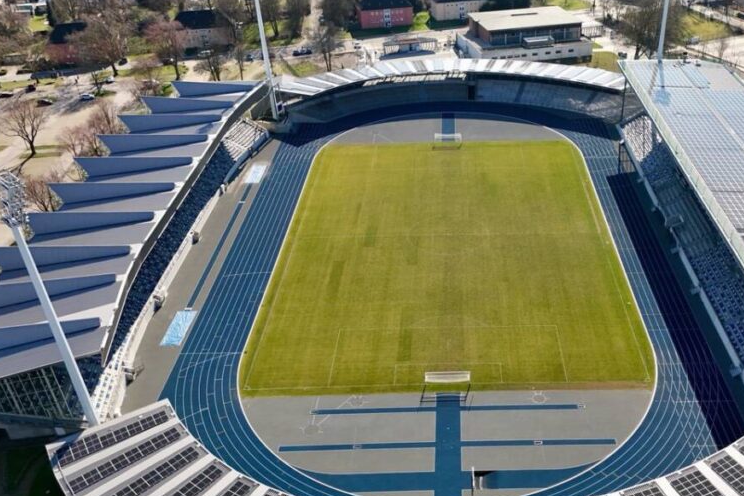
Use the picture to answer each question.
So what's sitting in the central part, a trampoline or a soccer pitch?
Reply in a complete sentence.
It is a soccer pitch that can be seen in the central part.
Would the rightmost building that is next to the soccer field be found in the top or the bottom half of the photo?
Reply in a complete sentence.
Seen from above, the rightmost building that is next to the soccer field lies in the top half of the view.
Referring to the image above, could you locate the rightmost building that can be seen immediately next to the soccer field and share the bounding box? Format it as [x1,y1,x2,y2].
[458,7,621,63]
